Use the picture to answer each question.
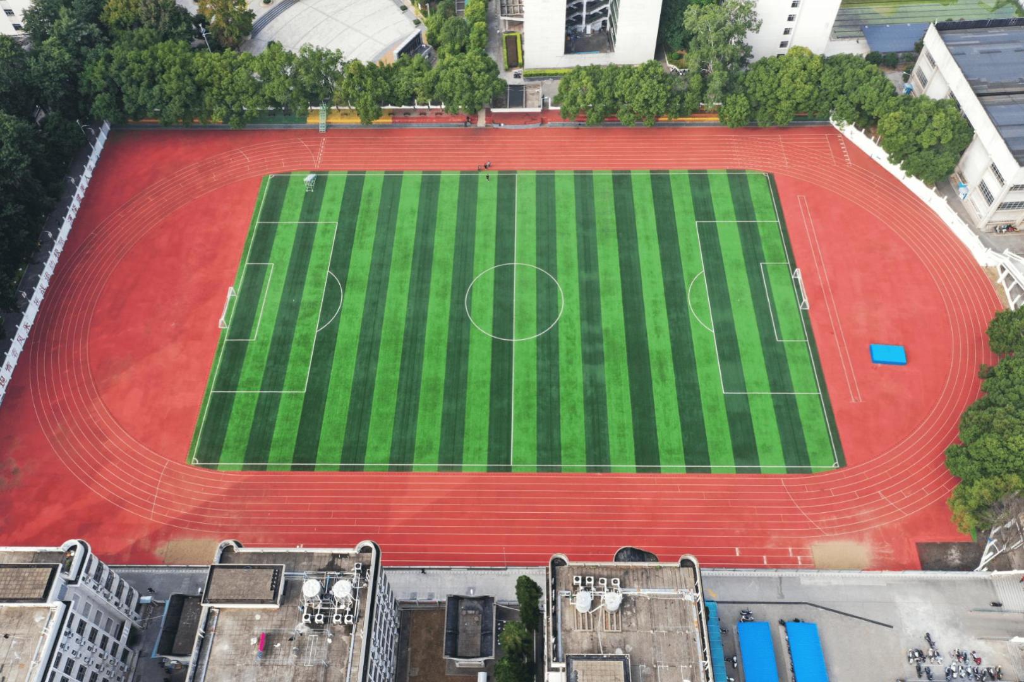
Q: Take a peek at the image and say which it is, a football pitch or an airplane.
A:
football pitch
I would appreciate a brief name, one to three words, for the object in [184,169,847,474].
soccer field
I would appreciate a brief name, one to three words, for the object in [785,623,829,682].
shed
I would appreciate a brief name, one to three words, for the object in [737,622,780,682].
shed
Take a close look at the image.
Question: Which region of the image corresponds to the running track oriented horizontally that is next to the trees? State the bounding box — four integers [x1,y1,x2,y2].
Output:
[0,127,1010,569]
